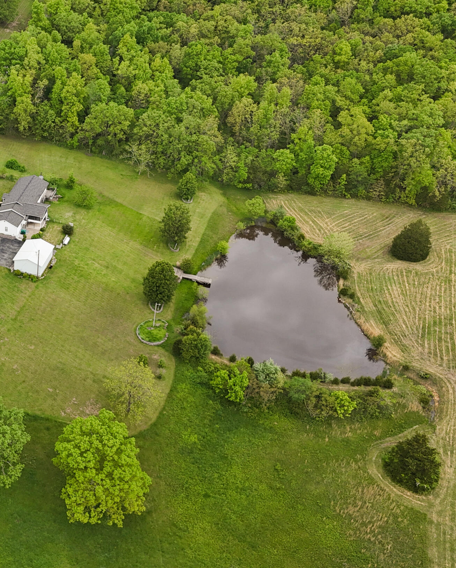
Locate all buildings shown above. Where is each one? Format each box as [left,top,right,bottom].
[13,238,54,276]
[0,172,58,236]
